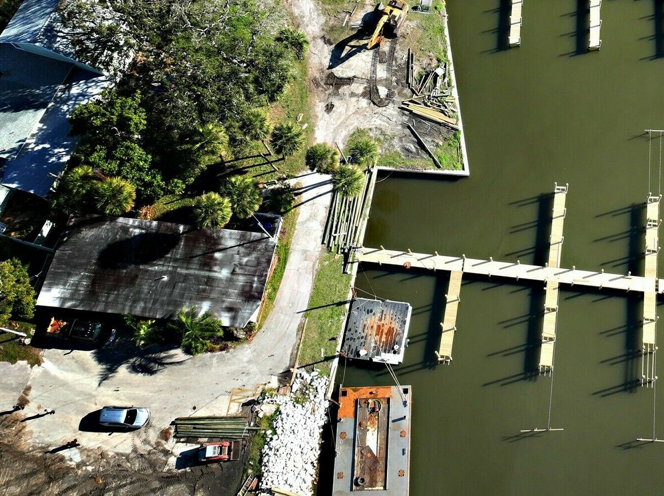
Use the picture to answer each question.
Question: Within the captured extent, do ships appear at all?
Yes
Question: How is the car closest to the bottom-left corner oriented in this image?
from side to side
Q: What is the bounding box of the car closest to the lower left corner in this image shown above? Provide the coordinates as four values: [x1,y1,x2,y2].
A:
[94,405,149,432]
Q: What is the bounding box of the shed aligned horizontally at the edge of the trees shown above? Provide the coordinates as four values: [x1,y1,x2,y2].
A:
[36,215,276,331]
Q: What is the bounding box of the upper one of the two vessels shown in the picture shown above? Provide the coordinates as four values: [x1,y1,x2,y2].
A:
[341,298,412,366]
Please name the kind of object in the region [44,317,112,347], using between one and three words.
truck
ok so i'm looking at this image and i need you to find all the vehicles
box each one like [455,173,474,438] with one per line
[198,440,241,463]
[367,0,414,53]
[44,317,112,347]
[94,405,149,432]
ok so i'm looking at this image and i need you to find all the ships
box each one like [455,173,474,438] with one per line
[331,386,412,496]
[341,298,412,366]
